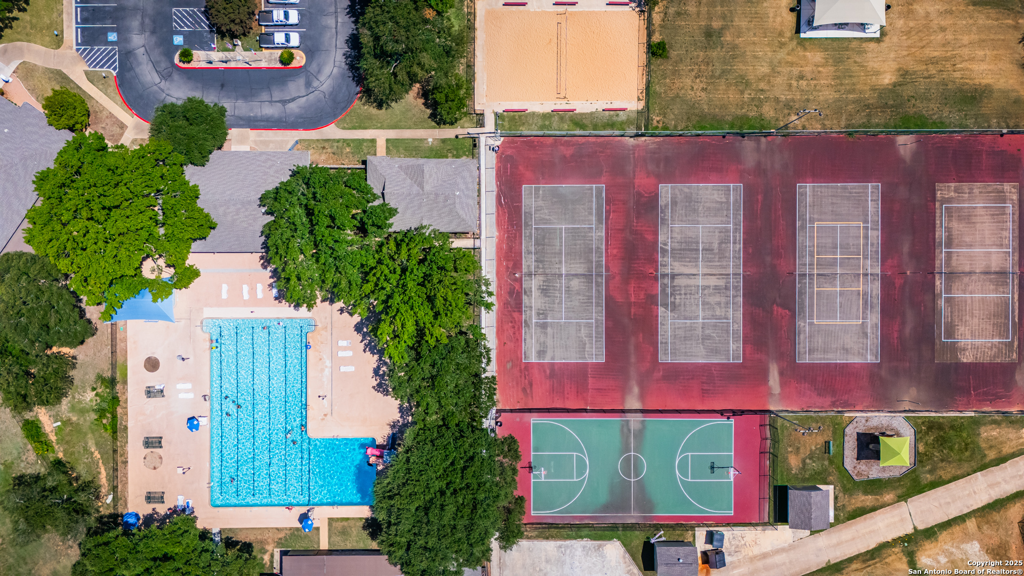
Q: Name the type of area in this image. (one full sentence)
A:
The area seen from above is a sports ground.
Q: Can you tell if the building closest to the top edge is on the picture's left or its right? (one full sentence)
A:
It is on the right.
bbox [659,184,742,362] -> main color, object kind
gray tennis court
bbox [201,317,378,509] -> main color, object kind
blue swimming pool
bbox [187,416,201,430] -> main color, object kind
blue umbrella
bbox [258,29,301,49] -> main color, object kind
white vehicle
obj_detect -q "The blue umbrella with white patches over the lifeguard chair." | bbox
[300,515,316,531]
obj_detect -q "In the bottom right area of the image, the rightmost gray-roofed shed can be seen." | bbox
[780,483,829,531]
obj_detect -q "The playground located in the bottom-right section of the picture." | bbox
[861,431,911,466]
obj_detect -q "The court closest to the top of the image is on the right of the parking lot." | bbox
[474,0,644,114]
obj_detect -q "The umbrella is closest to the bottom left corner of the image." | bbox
[123,508,144,529]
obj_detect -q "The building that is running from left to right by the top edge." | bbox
[804,0,886,33]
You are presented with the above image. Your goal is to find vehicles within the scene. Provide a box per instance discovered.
[263,0,299,6]
[258,29,301,49]
[257,6,301,26]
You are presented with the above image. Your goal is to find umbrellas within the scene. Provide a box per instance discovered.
[300,515,316,531]
[123,508,144,529]
[187,416,201,430]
